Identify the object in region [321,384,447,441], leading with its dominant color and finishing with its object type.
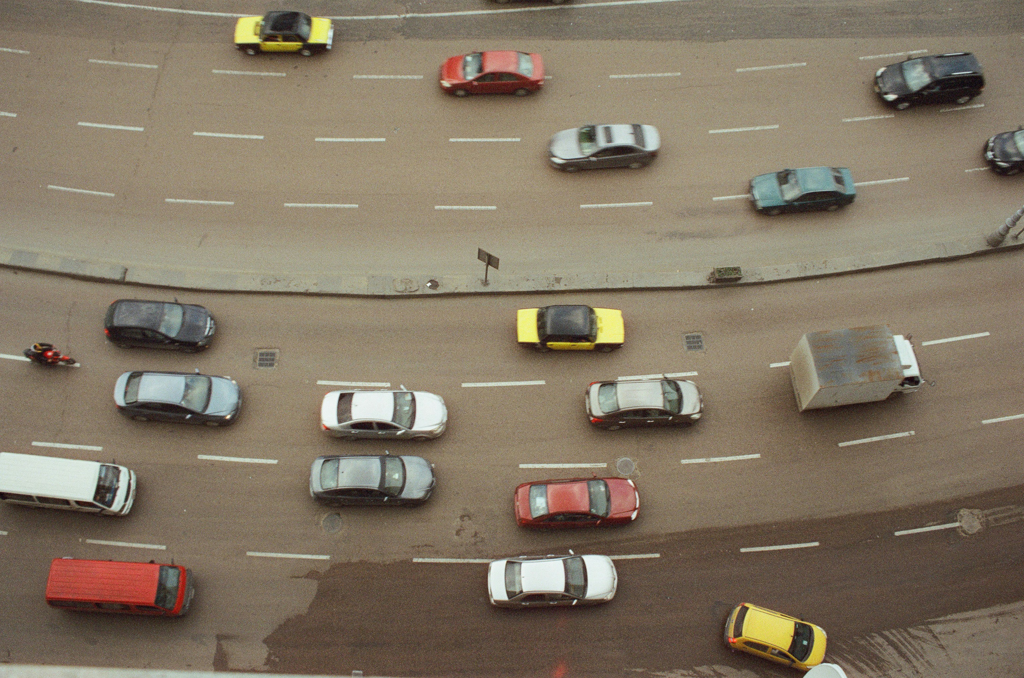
white car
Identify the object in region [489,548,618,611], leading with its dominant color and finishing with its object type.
white car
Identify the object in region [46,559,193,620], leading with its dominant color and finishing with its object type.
red vehicle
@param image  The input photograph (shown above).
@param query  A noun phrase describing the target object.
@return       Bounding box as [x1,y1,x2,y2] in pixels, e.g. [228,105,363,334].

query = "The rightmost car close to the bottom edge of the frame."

[725,600,827,672]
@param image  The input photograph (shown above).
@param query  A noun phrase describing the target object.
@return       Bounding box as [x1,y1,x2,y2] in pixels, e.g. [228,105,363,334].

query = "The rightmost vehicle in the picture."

[984,127,1024,179]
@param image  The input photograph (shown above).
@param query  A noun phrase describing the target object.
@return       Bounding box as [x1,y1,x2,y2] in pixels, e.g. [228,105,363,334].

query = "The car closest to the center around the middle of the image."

[517,300,625,352]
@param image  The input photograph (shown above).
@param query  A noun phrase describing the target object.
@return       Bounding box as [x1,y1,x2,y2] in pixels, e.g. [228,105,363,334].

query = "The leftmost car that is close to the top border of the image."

[235,10,333,56]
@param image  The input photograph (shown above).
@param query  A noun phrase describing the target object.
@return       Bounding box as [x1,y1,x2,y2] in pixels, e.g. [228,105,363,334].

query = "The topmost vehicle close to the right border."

[873,51,985,110]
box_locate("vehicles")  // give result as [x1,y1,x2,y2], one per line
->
[321,384,447,441]
[585,372,704,430]
[984,127,1024,179]
[749,164,856,215]
[792,326,931,411]
[439,49,544,97]
[515,469,639,530]
[46,559,193,620]
[235,10,333,56]
[548,122,661,174]
[725,600,827,672]
[0,453,136,517]
[310,448,435,506]
[489,548,618,611]
[517,300,625,352]
[873,51,985,110]
[114,369,242,426]
[105,296,214,353]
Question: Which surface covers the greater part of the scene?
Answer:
paved ground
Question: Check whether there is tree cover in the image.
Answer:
No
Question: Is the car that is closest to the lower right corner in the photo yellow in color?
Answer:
Yes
